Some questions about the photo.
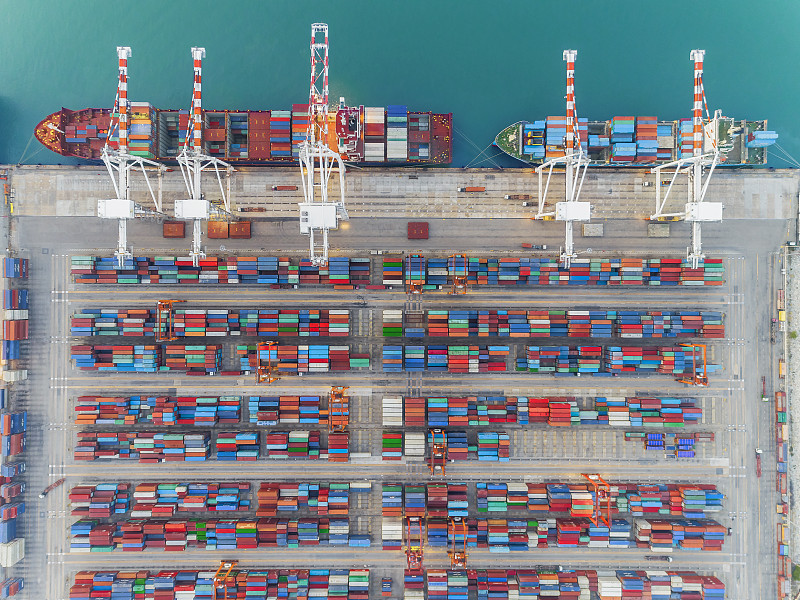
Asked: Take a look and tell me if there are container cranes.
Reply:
Yes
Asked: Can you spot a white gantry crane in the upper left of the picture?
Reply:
Yes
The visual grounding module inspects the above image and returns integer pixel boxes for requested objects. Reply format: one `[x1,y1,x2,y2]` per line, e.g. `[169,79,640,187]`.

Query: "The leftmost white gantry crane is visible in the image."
[98,46,175,267]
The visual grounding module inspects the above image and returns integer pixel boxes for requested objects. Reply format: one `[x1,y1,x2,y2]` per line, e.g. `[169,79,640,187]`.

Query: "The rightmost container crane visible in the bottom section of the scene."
[673,341,707,388]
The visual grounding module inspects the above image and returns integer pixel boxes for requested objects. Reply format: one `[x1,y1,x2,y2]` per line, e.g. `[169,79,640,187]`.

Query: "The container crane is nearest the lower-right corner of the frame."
[581,474,609,525]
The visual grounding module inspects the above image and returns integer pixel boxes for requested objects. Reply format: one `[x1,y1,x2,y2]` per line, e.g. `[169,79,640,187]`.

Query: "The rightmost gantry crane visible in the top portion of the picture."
[642,46,722,267]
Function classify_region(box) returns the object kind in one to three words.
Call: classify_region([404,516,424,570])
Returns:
container crane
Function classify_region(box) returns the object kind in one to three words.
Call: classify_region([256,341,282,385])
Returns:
container crane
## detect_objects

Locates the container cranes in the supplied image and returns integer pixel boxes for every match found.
[256,341,282,385]
[213,562,241,600]
[426,428,447,477]
[404,516,424,570]
[528,46,591,267]
[642,46,722,267]
[581,474,609,525]
[174,46,242,267]
[329,386,351,434]
[298,23,352,262]
[446,516,468,570]
[673,341,707,388]
[447,251,468,294]
[404,252,424,298]
[98,46,175,267]
[157,299,188,342]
